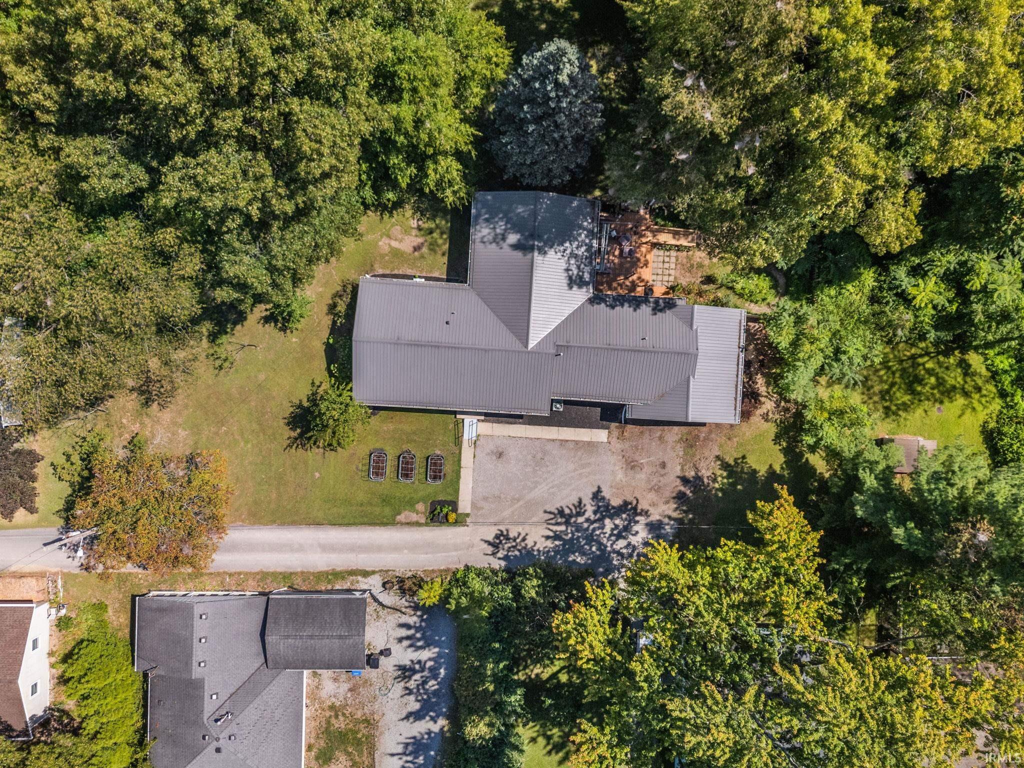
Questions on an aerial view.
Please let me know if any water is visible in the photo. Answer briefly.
No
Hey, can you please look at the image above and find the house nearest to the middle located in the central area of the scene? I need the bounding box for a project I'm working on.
[352,191,748,425]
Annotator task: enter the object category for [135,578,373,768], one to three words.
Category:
house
